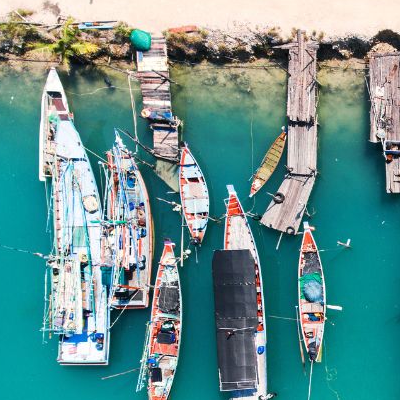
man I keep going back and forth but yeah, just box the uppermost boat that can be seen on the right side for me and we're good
[249,126,287,197]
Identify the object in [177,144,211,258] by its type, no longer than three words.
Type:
boat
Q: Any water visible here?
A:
Yes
